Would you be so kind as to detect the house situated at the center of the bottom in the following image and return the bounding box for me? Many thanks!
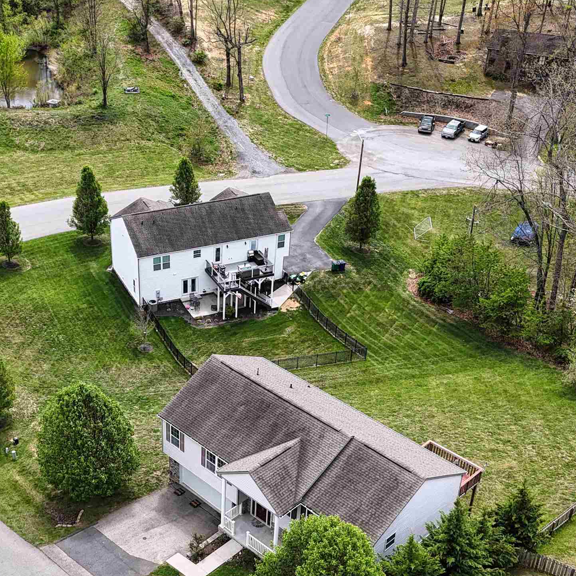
[158,353,483,575]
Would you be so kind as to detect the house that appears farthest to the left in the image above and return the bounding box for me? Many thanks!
[108,186,292,315]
